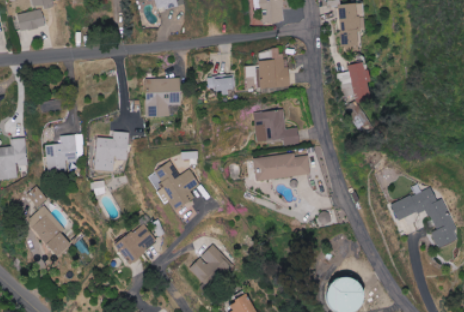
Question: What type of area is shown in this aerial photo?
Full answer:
This image shows a residential area.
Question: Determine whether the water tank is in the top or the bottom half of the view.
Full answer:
It is in the bottom half that the water tank appears.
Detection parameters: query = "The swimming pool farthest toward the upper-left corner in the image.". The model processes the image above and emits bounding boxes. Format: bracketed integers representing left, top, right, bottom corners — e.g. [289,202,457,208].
[144,3,158,25]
